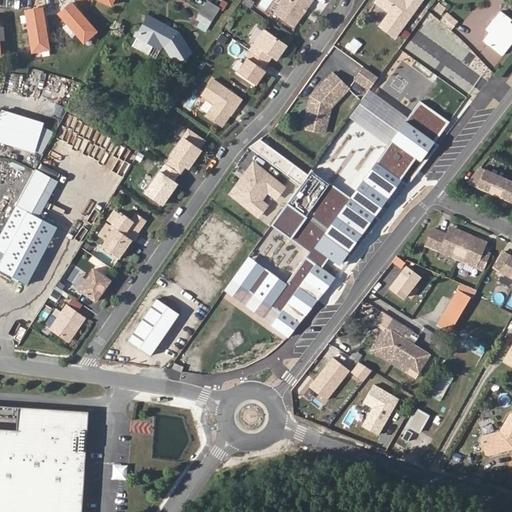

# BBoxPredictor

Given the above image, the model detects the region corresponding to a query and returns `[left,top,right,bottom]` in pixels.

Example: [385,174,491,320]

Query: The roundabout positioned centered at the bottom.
[216,382,288,452]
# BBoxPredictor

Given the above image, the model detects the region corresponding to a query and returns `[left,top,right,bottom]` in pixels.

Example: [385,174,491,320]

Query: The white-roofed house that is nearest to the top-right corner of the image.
[483,10,512,56]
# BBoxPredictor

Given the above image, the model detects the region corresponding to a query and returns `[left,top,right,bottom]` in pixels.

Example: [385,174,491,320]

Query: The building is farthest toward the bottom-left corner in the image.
[0,407,88,512]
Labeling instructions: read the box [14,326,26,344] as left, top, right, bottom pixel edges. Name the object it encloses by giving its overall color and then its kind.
white vehicle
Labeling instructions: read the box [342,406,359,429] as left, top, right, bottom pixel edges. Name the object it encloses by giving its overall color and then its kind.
white swimming pool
